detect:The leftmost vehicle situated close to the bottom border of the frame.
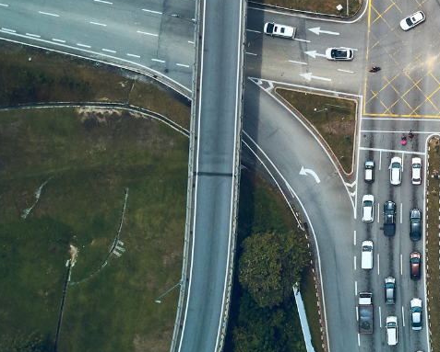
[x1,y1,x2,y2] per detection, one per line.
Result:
[356,291,374,336]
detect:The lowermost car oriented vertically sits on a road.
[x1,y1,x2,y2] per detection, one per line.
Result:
[386,315,399,346]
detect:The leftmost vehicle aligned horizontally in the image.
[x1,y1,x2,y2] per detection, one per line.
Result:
[265,22,297,38]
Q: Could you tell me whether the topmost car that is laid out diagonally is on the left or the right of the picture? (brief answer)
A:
right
